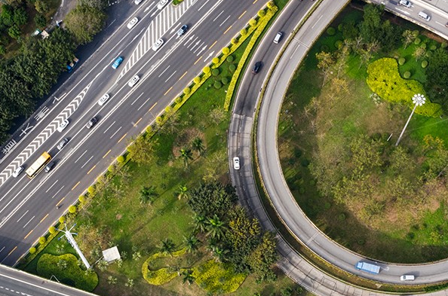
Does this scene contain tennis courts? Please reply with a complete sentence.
No, no tennis court is visible in the view.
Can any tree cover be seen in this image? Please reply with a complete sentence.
Yes, the picture does contain tree cover.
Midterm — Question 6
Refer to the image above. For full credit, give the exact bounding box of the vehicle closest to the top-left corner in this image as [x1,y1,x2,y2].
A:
[63,56,79,72]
